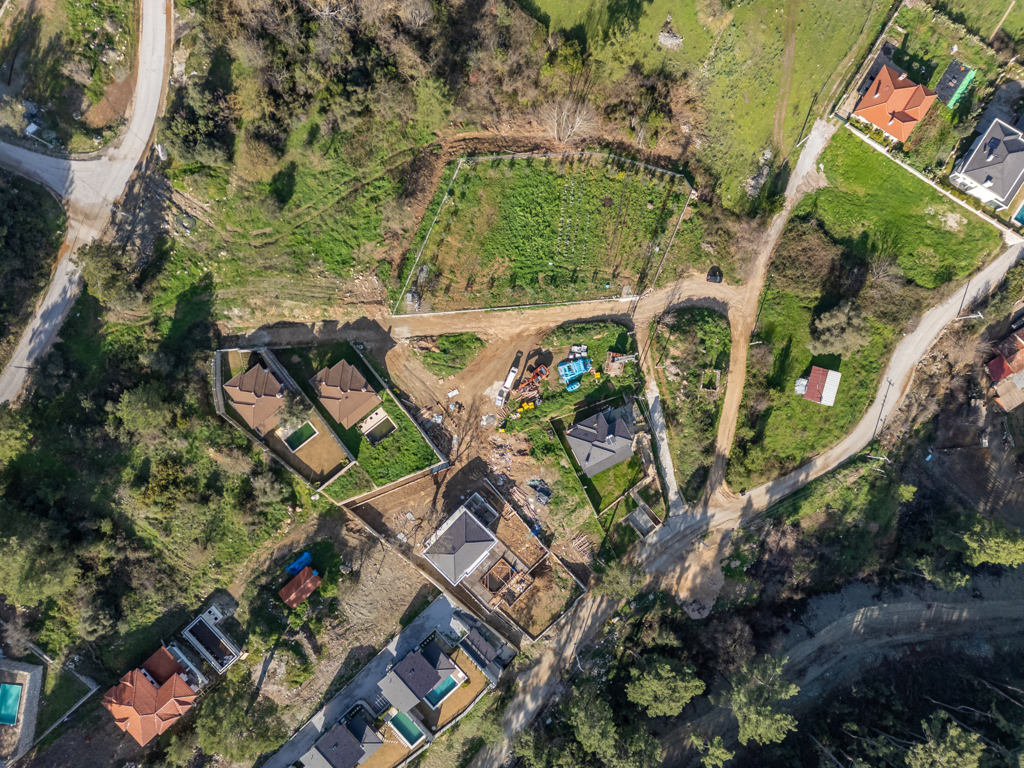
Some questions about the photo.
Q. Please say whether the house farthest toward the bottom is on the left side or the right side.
left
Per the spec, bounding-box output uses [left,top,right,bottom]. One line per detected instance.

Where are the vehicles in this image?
[707,275,723,283]
[860,74,875,93]
[510,363,551,395]
[1010,318,1024,331]
[503,366,518,392]
[494,394,502,408]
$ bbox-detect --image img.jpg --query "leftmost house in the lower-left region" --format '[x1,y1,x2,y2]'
[101,643,207,747]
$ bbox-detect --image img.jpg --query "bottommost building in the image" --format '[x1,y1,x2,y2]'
[300,706,384,768]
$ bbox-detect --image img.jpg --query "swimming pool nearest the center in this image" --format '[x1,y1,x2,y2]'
[359,407,398,446]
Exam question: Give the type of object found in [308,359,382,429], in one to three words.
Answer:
house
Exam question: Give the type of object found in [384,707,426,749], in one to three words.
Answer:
swimming pool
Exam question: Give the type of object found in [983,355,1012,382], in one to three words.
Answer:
shed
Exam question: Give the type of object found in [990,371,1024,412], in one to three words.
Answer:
barn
